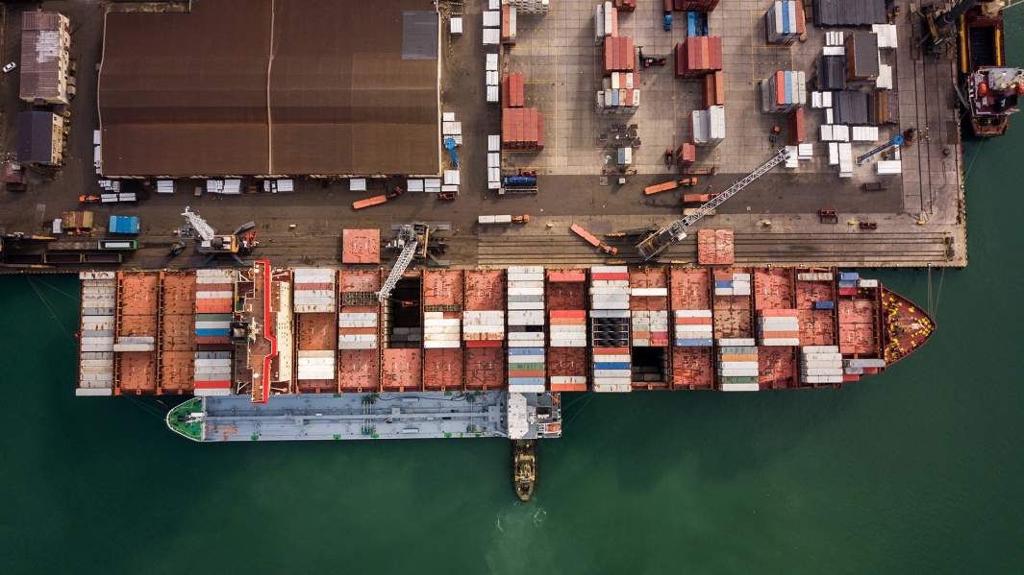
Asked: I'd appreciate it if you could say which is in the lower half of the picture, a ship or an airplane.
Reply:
ship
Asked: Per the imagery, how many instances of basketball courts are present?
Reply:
zero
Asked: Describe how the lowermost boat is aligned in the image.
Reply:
vertically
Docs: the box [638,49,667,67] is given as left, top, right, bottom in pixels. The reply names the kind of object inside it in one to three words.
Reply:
work vehicle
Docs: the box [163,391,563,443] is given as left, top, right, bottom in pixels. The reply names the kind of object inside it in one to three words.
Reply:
ship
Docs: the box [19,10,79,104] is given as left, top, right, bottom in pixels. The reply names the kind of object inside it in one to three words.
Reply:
building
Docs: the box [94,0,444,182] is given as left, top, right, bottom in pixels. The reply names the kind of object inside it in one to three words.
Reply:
warehouse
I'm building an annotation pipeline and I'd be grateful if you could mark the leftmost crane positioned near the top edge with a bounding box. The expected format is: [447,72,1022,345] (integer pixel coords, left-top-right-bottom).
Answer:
[910,0,985,55]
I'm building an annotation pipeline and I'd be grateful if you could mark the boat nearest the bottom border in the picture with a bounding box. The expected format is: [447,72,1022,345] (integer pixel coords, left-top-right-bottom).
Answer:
[511,440,539,502]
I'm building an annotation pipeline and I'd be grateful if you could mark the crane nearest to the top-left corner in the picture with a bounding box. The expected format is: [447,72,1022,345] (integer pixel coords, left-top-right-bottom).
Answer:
[175,209,264,262]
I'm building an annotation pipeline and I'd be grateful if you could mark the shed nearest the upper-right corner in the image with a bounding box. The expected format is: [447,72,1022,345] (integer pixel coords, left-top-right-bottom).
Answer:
[846,32,879,81]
